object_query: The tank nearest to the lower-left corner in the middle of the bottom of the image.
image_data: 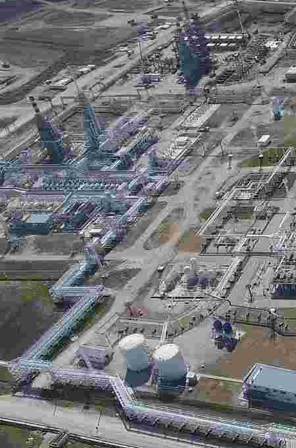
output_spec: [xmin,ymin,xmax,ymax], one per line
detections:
[117,331,156,373]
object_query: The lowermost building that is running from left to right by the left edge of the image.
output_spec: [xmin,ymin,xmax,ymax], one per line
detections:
[7,210,61,234]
